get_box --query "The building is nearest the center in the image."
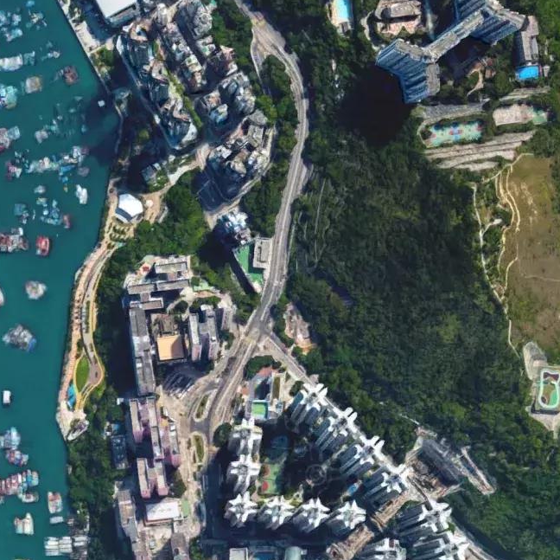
[251,237,274,274]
